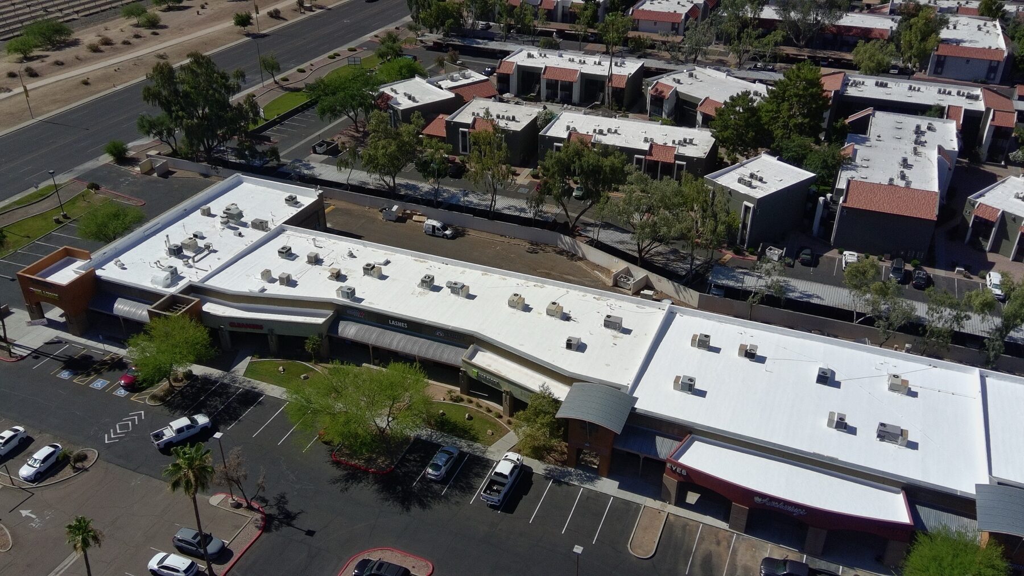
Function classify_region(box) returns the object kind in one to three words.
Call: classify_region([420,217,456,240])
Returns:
vehicle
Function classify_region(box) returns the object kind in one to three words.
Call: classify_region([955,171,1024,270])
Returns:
building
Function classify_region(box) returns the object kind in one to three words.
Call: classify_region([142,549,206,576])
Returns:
car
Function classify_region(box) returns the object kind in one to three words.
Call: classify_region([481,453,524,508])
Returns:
truck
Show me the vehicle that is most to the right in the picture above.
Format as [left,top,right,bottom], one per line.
[983,270,1008,297]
